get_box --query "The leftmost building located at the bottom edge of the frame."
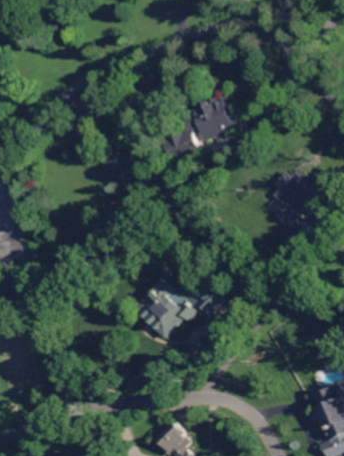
[157,422,198,456]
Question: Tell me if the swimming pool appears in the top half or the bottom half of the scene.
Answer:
bottom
